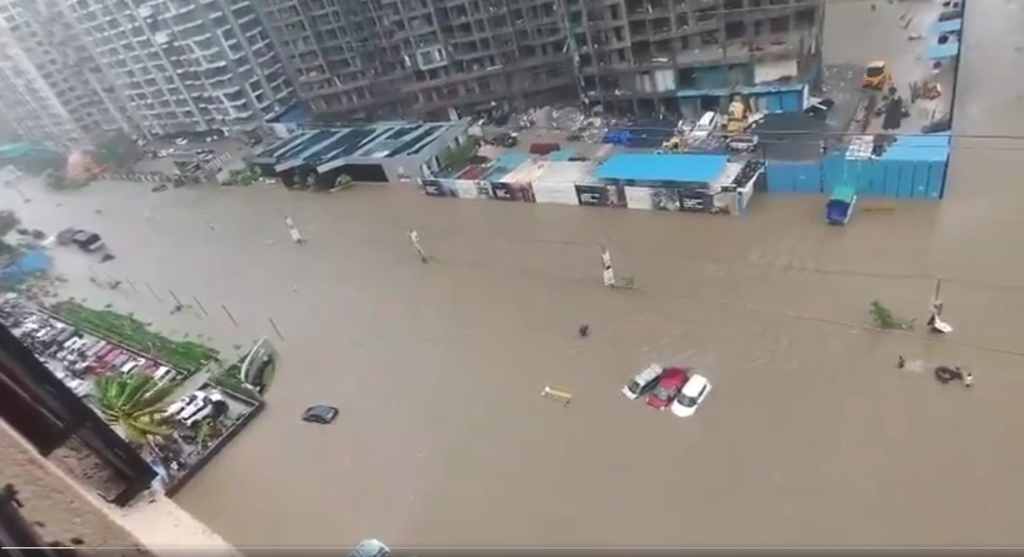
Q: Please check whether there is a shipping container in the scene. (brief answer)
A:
No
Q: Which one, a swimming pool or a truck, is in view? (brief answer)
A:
truck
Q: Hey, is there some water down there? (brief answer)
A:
Yes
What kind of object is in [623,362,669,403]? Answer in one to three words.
vehicle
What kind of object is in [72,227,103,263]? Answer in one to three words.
car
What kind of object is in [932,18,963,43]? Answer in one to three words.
shed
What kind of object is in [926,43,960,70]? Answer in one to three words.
shed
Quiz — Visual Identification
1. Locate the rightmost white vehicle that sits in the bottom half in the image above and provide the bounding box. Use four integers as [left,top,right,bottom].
[673,376,714,418]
